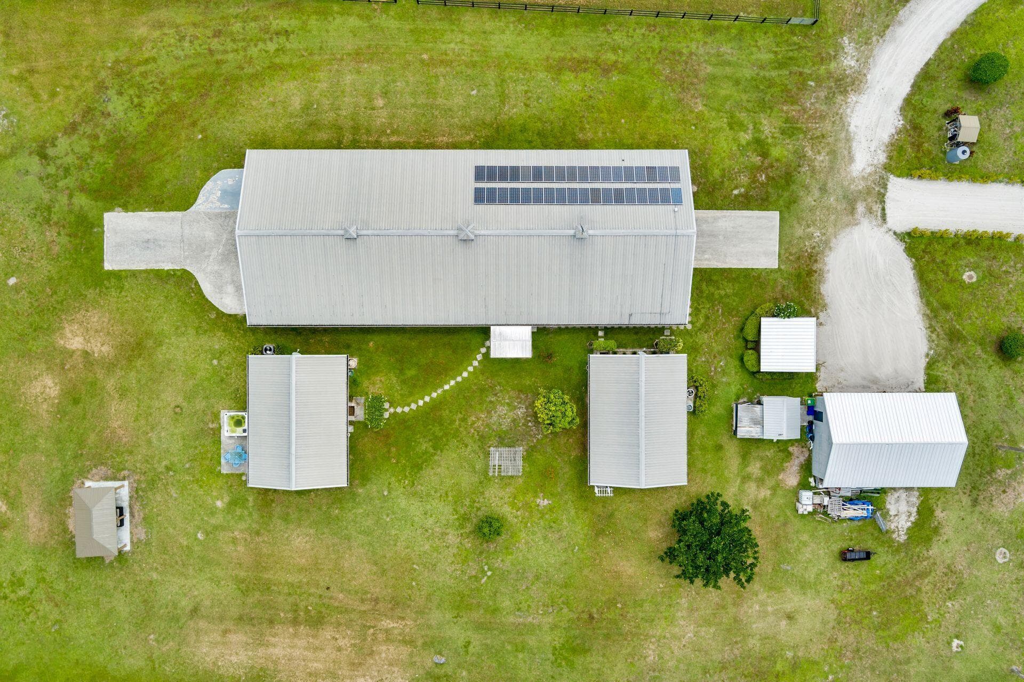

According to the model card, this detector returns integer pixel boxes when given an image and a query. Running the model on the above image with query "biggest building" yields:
[235,149,696,358]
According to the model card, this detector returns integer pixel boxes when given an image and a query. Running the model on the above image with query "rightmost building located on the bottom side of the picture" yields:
[813,392,969,488]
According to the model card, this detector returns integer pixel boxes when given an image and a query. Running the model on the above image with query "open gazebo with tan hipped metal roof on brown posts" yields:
[74,484,128,559]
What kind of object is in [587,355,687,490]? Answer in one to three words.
building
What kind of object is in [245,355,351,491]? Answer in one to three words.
building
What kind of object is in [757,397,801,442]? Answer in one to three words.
shed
